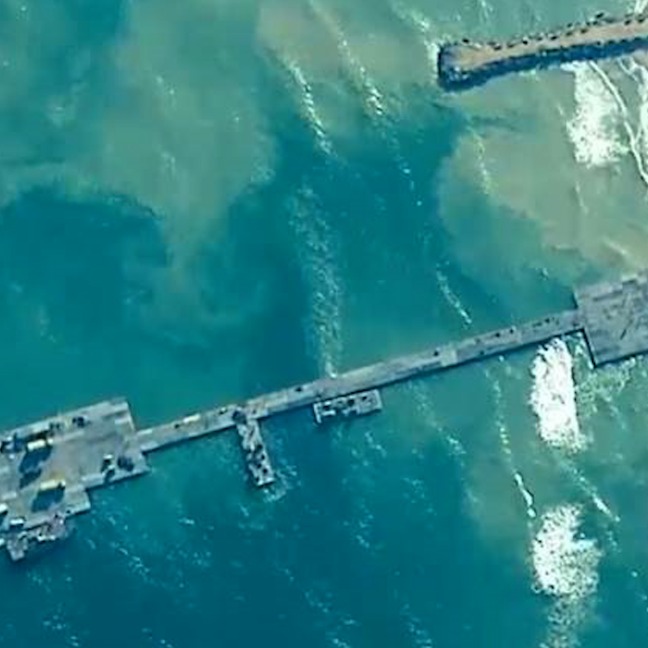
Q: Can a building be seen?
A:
No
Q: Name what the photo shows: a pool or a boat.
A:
boat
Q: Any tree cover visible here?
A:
No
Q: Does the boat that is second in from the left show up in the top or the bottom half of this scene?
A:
bottom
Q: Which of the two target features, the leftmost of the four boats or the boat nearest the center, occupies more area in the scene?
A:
the boat nearest the center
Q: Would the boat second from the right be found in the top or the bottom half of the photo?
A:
bottom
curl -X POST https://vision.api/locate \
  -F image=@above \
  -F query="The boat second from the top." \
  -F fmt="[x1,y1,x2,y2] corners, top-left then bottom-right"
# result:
[230,410,276,487]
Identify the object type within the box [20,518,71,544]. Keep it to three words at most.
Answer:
boat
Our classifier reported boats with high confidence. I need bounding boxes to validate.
[4,533,27,564]
[230,410,276,487]
[314,390,383,423]
[20,518,71,544]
